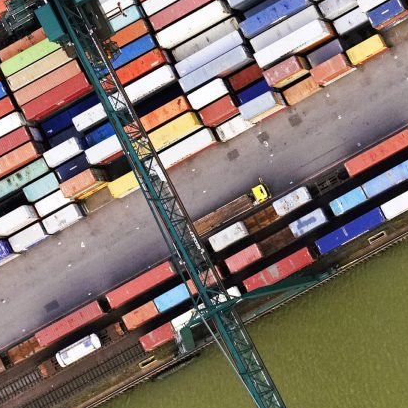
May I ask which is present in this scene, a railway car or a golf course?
railway car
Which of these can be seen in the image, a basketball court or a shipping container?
shipping container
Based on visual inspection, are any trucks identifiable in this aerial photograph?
Yes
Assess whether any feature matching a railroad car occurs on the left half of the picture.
Yes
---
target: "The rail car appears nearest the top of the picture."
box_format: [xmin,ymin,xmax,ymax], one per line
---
[311,149,408,200]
